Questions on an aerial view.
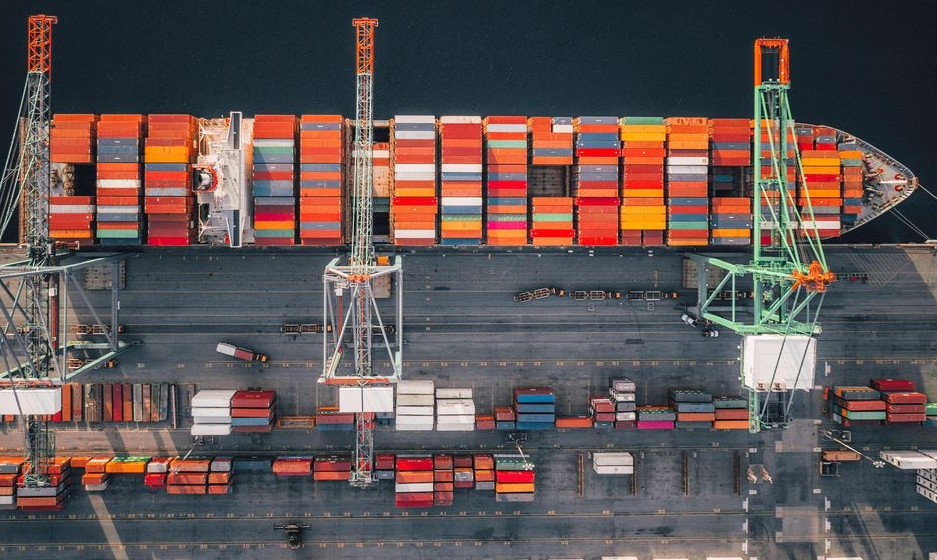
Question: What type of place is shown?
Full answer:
What you see here is a port.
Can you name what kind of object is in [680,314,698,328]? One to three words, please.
vehicle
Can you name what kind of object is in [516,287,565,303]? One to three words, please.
vehicle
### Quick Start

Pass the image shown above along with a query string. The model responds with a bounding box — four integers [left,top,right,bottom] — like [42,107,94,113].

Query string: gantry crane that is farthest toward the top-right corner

[675,36,834,433]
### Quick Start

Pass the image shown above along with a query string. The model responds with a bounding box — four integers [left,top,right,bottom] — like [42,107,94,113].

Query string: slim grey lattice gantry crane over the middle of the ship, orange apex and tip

[323,16,415,487]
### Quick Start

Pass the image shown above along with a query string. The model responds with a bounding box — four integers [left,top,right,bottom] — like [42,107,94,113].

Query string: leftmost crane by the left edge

[0,14,142,490]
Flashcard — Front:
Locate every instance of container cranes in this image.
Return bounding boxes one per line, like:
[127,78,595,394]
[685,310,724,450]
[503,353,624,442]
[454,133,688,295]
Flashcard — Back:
[0,14,142,490]
[675,36,834,433]
[323,16,415,487]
